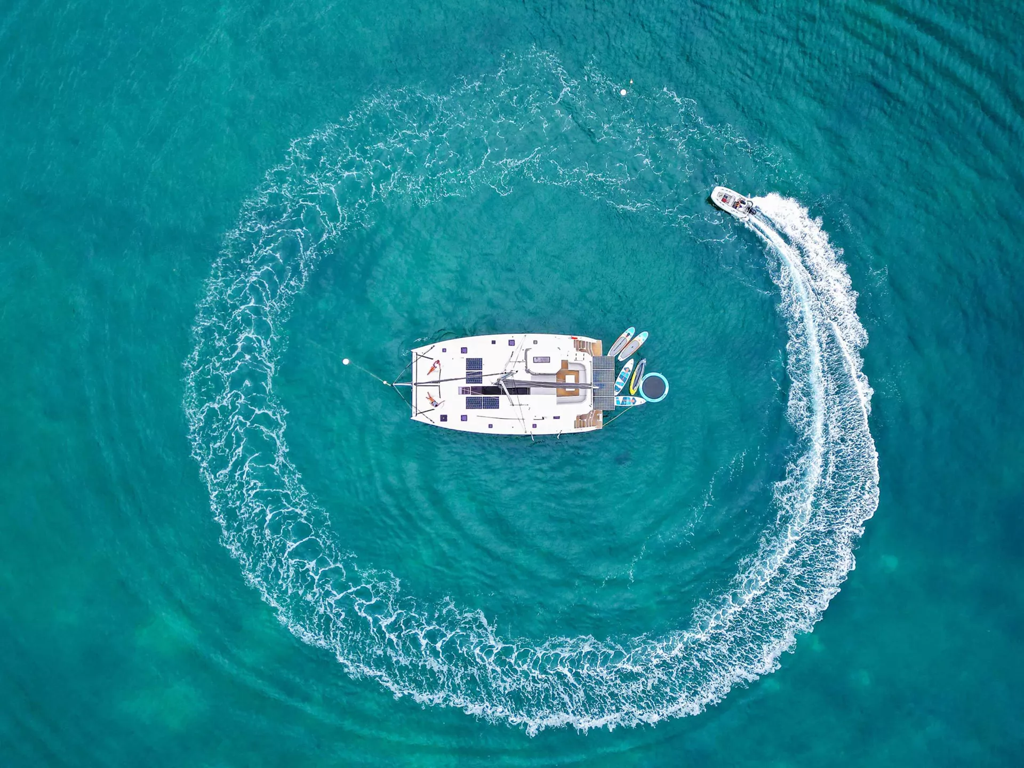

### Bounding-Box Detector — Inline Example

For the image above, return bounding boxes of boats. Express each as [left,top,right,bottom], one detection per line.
[714,188,757,219]
[392,333,615,436]
[630,358,647,395]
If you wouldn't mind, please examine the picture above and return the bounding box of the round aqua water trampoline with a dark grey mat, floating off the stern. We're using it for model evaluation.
[640,373,669,402]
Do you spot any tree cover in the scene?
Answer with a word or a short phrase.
No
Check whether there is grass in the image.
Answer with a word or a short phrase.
No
